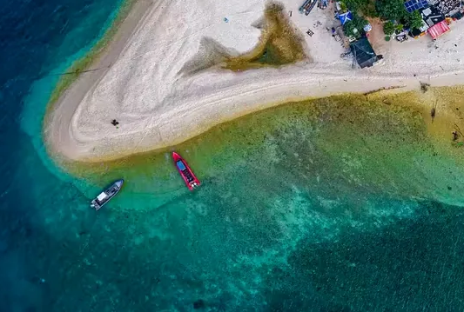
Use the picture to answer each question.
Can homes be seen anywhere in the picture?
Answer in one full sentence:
Yes, a home is visible in the scene.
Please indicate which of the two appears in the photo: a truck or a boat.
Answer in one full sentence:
Of the two, only a boat appears.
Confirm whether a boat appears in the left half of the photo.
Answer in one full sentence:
Yes, there is a boat in the left half of the photo.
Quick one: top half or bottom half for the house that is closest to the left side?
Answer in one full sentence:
The house that is closest to the left side sits in the top half of the picture.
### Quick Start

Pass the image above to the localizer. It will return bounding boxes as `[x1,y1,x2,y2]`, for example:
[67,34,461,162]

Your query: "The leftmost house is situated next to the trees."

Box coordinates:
[351,38,377,64]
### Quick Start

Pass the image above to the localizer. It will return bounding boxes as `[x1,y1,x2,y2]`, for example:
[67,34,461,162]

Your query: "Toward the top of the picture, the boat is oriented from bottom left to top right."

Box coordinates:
[297,0,315,15]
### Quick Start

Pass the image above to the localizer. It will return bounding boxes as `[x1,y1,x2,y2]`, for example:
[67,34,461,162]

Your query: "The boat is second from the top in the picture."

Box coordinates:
[171,151,200,195]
